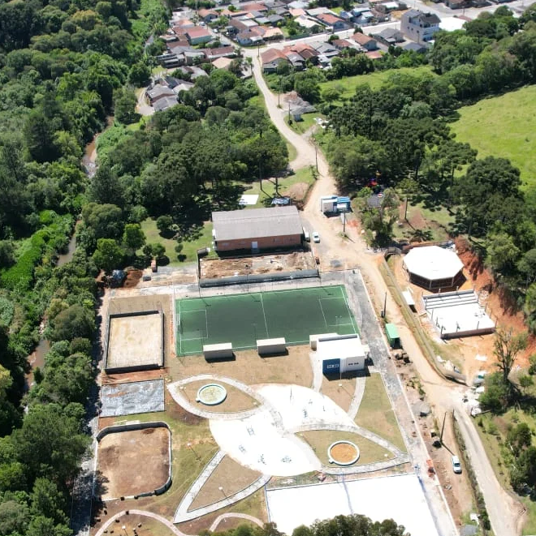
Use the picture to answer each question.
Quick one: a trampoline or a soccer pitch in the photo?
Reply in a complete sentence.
The one in the frame is a soccer pitch.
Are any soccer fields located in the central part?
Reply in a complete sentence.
Yes, looking in the central part, one can make out a soccer field.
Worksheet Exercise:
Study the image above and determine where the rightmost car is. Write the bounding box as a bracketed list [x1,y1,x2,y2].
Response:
[449,455,464,472]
